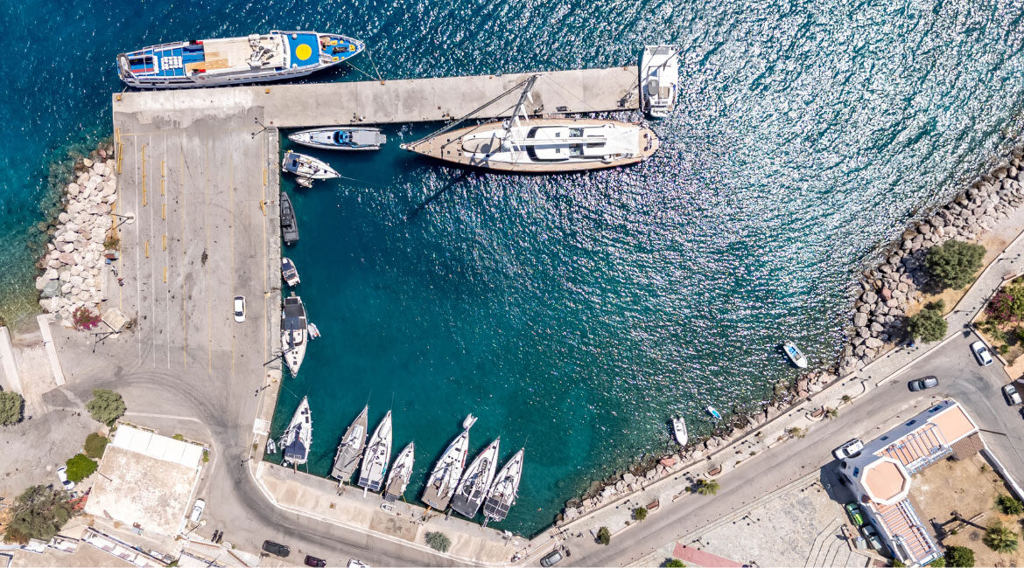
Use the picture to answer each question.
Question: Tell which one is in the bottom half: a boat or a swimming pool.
boat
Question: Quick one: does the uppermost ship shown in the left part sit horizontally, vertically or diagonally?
horizontally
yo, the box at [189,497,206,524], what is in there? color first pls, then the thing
white car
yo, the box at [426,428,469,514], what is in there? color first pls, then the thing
white boat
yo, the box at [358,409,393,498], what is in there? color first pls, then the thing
white boat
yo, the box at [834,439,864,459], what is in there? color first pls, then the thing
white car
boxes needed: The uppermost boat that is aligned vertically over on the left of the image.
[280,192,298,244]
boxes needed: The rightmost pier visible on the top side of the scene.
[112,66,641,128]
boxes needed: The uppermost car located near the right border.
[971,339,993,368]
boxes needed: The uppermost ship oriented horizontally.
[118,30,367,87]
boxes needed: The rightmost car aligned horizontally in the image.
[907,376,937,391]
